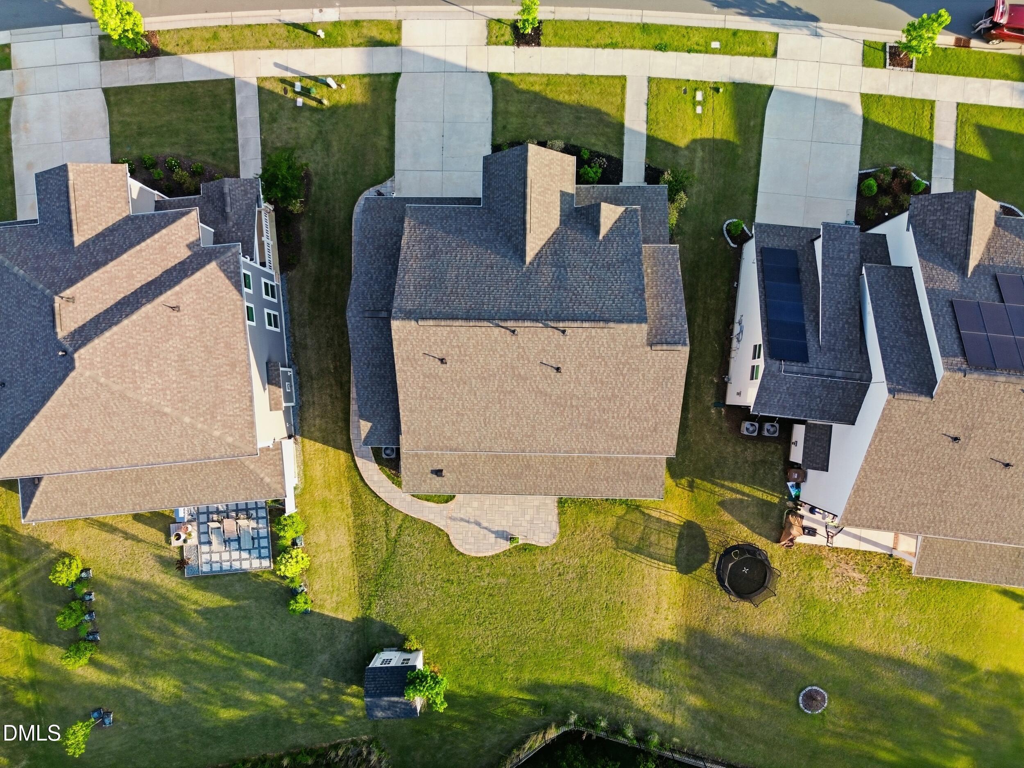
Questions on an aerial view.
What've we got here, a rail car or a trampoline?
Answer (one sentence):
The one in the frame is a trampoline.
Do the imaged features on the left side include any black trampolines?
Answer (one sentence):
No, there's no black trampoline to be seen on the left side.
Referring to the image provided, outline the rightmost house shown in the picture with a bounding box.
[721,190,1024,589]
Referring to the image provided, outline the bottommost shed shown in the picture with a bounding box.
[364,647,422,720]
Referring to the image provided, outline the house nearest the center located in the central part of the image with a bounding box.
[347,143,690,500]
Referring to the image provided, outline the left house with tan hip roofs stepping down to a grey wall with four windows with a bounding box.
[0,163,299,524]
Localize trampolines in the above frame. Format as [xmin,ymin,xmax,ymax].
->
[710,538,782,606]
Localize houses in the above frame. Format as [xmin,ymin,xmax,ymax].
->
[0,163,299,524]
[721,190,1024,589]
[347,143,690,500]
